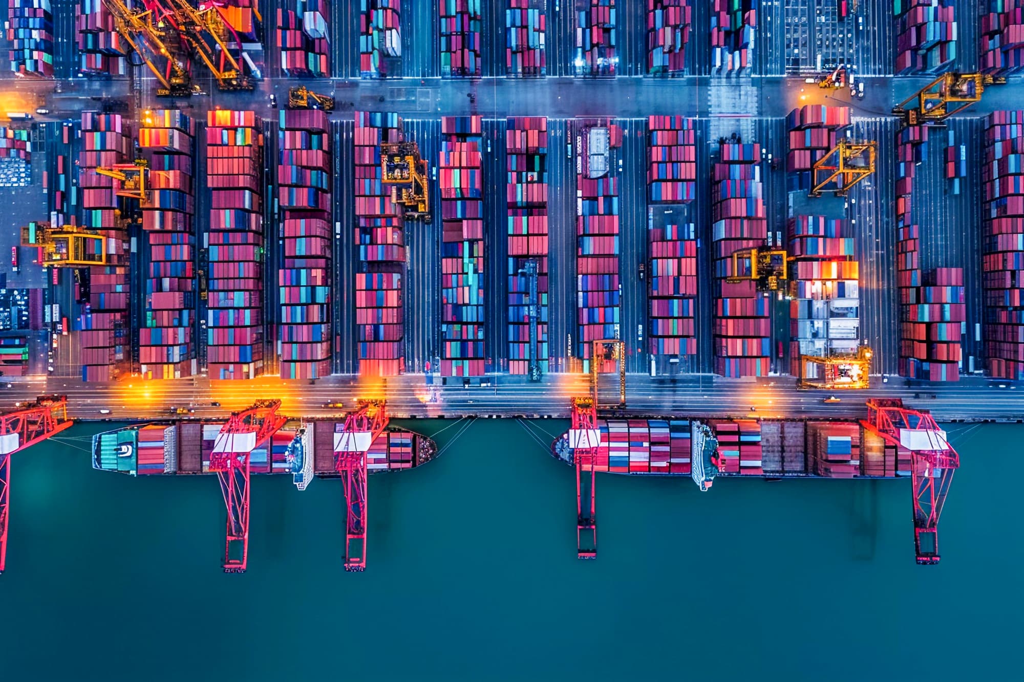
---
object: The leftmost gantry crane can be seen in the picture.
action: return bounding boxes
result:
[0,399,74,575]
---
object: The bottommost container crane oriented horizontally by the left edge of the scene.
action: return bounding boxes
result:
[20,227,137,270]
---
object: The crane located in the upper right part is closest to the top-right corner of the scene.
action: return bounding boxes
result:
[894,68,982,122]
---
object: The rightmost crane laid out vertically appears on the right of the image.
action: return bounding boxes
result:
[871,399,956,570]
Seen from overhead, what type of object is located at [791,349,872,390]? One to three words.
container crane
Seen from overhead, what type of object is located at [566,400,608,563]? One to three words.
container crane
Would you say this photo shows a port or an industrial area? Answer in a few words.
port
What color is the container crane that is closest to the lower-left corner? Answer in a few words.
red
